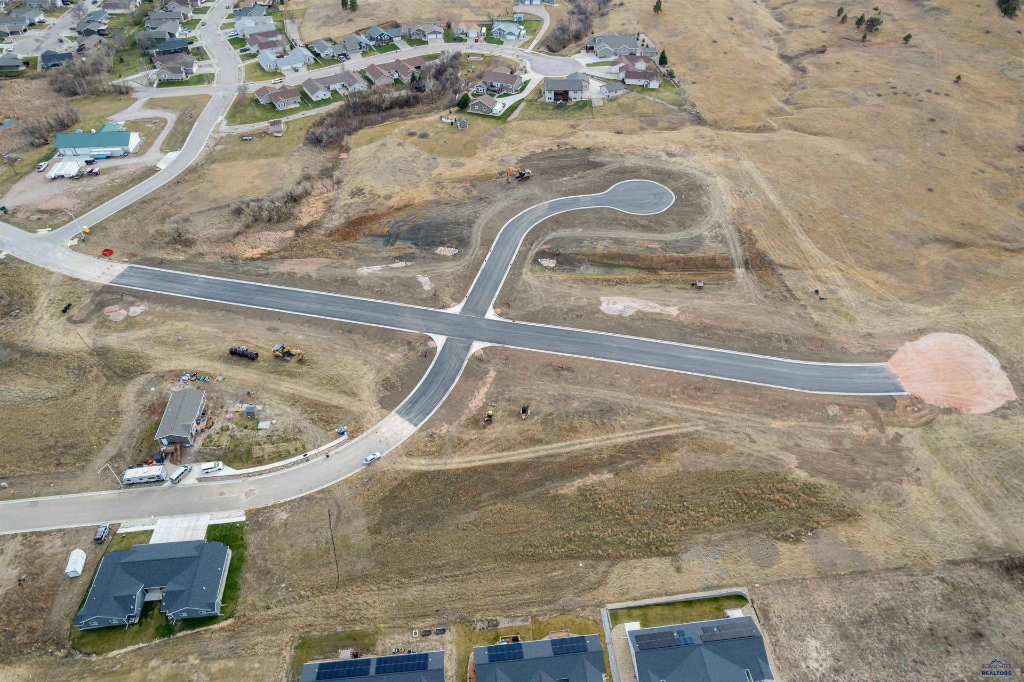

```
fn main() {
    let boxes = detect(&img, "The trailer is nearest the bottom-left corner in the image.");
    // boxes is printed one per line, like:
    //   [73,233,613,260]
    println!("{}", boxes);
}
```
[60,542,88,576]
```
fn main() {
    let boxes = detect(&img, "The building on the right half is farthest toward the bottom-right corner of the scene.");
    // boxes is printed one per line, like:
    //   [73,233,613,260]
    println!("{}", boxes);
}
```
[627,615,780,682]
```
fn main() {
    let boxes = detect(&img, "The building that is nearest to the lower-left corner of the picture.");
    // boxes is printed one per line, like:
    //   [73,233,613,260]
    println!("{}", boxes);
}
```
[75,538,235,630]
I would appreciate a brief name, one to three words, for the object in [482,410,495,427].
vehicle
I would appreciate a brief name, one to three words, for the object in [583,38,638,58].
house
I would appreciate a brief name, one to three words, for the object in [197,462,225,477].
vehicle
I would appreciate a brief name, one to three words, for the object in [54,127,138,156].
barn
